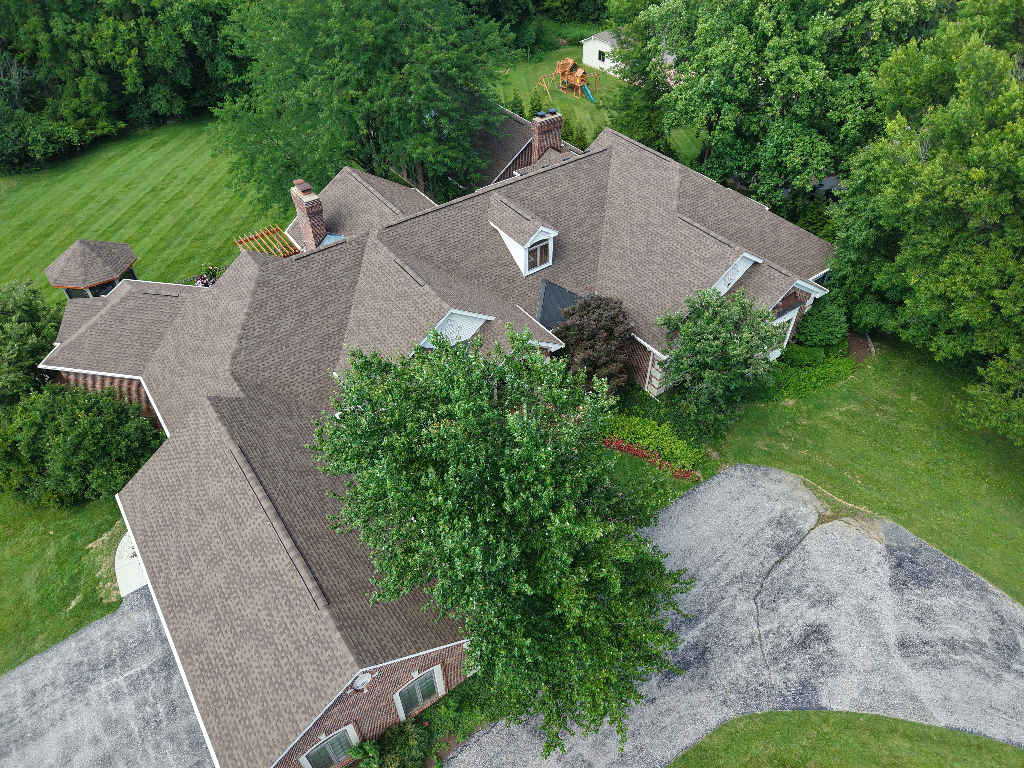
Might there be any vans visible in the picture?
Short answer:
No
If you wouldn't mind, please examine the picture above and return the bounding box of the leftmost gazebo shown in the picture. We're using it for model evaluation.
[46,239,141,301]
